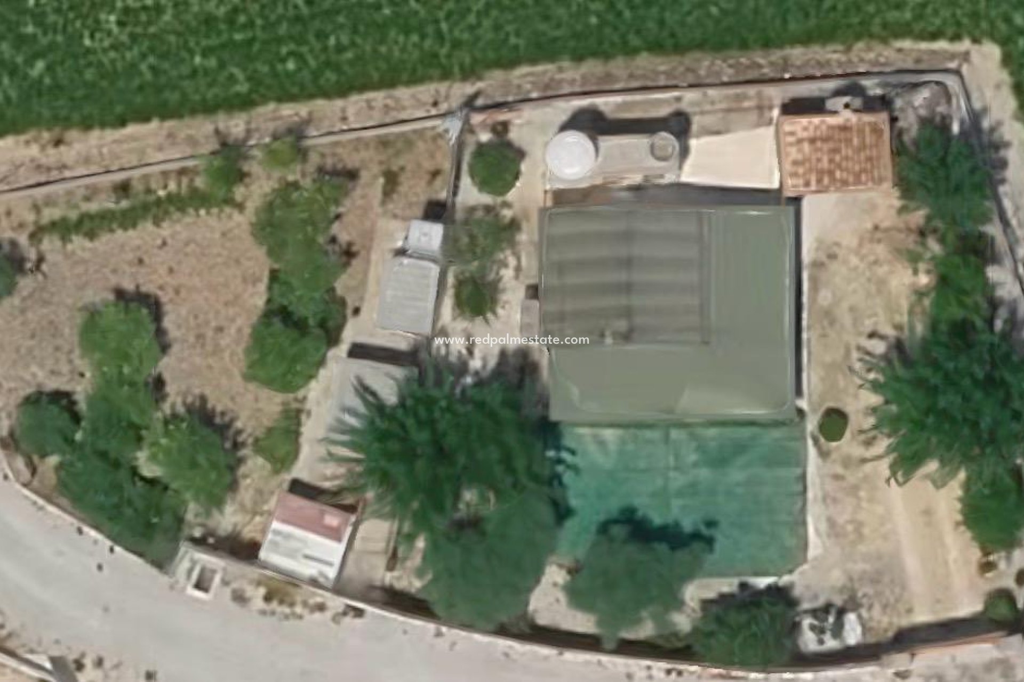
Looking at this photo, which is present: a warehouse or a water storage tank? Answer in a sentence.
Of the two, only a water storage tank appears.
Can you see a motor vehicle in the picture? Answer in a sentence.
No, there appears to be no motor vehicle in this shot.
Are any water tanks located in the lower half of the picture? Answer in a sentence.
No, in the lower half of the picture there is no water tank.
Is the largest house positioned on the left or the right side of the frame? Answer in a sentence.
The largest house is on the right side of the image.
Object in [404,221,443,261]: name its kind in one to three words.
shed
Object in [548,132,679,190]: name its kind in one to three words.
water tank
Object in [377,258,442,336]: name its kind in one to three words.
shed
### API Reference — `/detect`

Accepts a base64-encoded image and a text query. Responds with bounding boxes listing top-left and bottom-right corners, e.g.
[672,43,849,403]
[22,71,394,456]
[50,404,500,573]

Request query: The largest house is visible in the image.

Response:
[540,207,796,423]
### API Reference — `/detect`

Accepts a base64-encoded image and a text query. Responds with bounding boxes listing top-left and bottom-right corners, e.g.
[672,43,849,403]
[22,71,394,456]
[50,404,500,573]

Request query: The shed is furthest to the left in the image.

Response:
[259,490,359,589]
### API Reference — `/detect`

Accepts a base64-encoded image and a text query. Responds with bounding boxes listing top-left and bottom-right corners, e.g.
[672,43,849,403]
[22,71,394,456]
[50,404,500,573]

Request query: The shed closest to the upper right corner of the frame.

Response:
[777,111,893,197]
